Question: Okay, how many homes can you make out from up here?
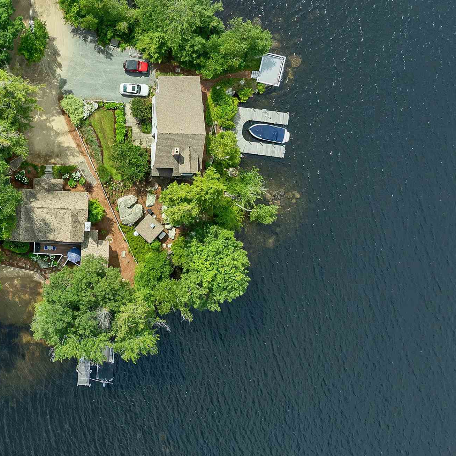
2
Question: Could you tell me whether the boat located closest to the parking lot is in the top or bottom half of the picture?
top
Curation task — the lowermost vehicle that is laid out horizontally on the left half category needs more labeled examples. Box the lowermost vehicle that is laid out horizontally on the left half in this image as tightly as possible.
[119,84,149,97]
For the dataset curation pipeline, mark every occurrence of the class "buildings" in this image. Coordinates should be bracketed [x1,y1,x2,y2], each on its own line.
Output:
[13,177,107,271]
[134,213,163,244]
[150,75,206,177]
